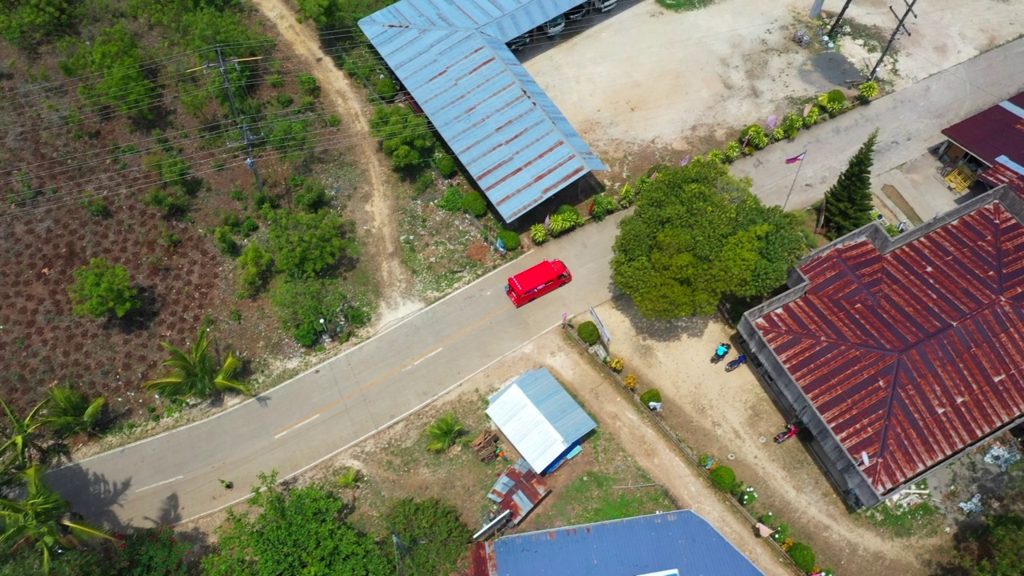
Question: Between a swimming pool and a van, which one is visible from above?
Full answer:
The image shows a van.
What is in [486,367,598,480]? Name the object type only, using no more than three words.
shed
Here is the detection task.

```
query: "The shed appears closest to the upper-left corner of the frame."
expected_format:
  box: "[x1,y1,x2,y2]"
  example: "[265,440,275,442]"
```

[358,0,618,227]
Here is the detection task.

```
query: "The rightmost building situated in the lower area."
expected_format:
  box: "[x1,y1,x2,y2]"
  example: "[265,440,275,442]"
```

[734,184,1024,517]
